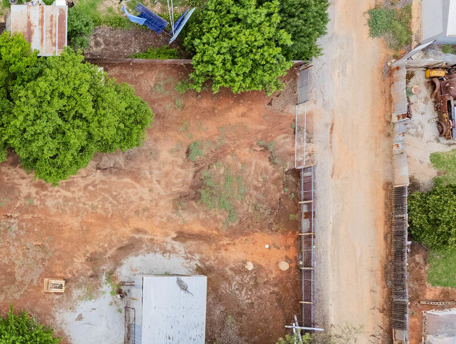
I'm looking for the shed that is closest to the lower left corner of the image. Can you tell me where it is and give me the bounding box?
[128,274,208,344]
